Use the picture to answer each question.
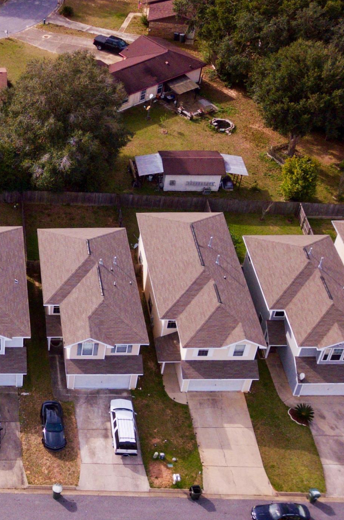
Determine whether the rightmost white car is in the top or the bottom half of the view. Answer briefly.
bottom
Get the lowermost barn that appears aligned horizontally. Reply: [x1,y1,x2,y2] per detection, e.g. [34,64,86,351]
[133,150,248,190]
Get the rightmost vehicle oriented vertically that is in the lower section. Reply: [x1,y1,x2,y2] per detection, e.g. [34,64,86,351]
[111,400,141,454]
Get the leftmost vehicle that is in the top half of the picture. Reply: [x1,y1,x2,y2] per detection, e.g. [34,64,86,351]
[85,34,128,51]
